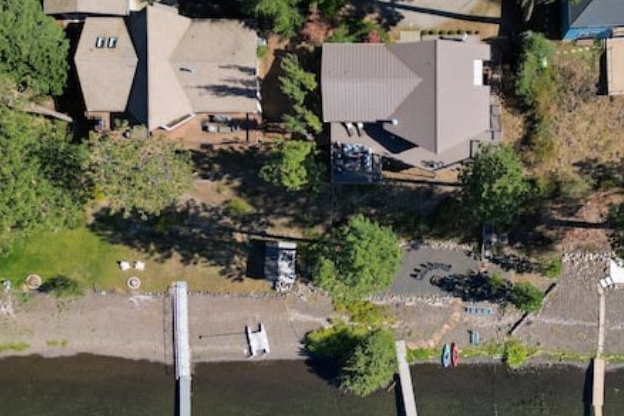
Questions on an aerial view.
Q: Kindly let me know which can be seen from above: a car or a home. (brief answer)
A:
home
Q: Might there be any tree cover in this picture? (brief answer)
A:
Yes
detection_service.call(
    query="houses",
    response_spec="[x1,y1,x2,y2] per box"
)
[319,21,501,185]
[74,5,265,152]
[564,0,624,99]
